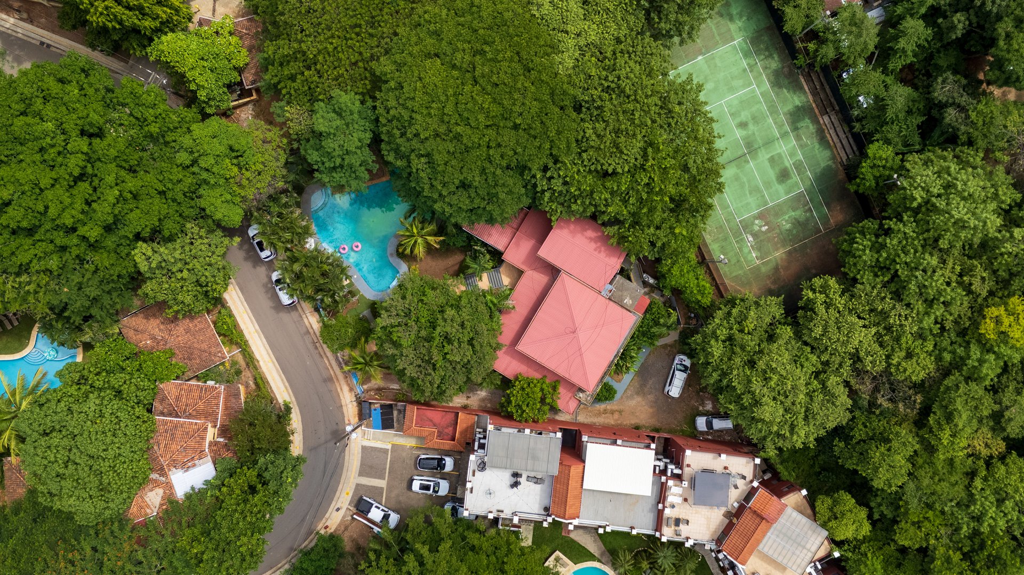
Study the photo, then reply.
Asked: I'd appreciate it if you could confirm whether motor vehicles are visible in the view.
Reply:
Yes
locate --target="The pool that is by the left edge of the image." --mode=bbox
[0,323,84,415]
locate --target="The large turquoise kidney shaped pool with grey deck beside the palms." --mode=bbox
[300,173,417,301]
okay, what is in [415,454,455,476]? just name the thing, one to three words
car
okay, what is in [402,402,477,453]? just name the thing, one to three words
building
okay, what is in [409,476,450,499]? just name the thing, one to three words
car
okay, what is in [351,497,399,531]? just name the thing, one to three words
vehicle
